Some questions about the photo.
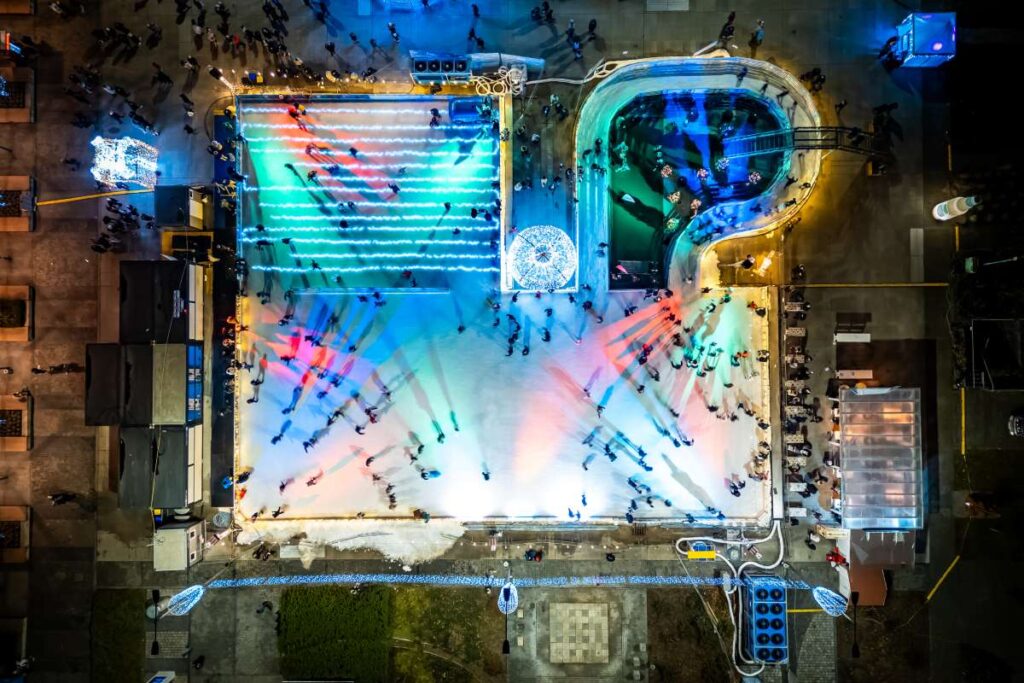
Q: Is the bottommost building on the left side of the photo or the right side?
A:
left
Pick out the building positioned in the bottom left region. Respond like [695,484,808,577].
[147,517,208,571]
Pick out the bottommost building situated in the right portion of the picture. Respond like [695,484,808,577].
[819,384,922,529]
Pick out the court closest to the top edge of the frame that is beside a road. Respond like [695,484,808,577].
[241,71,813,517]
